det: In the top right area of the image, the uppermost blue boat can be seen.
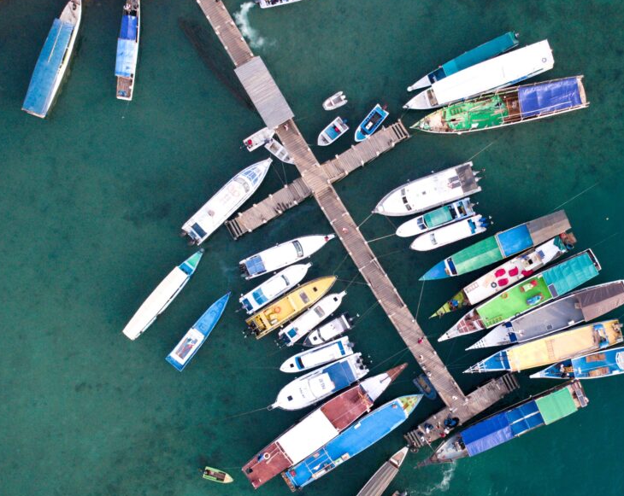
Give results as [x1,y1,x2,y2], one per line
[408,32,517,90]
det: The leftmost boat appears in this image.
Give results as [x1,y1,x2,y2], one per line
[22,0,82,121]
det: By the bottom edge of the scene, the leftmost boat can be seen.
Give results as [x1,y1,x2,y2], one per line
[201,466,233,482]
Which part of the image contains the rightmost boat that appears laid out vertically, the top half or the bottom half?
top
